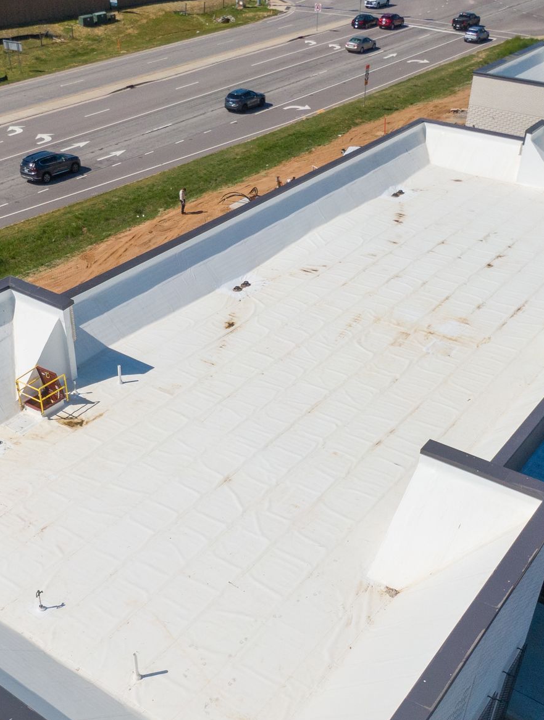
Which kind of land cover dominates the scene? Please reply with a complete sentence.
The largest share of the image is taken up by buildings.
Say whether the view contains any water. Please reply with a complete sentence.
No, there's no water in this view.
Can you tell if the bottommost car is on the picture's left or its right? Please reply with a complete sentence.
The bottommost car appears in the left half of the scene.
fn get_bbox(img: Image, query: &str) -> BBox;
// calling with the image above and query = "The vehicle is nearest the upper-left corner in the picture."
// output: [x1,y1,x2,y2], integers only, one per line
[19,149,83,181]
